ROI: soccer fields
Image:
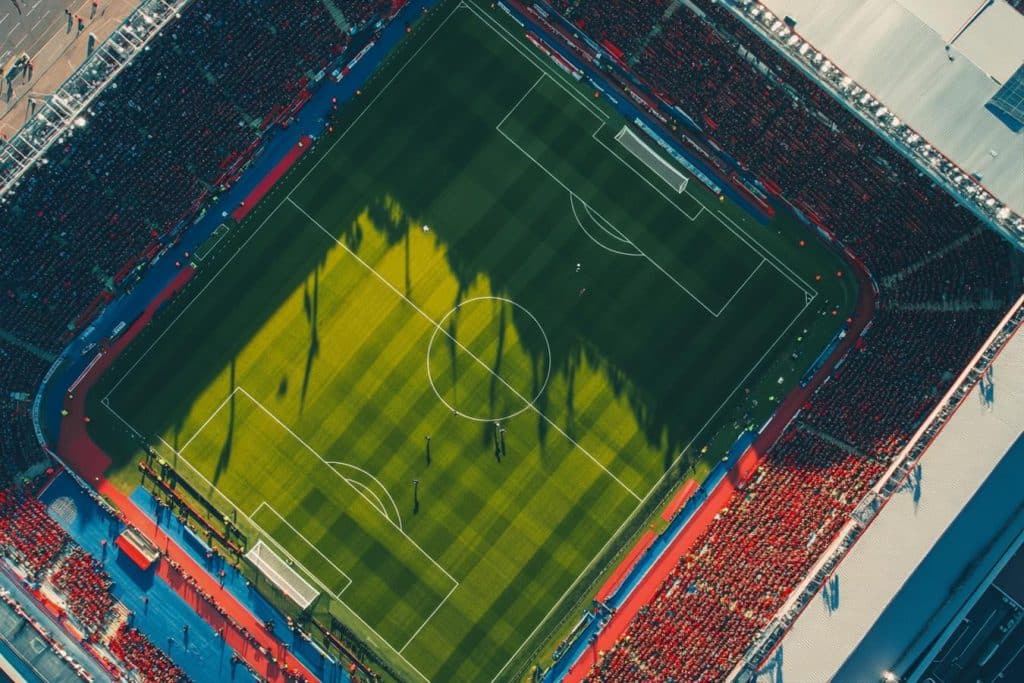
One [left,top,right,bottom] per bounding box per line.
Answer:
[101,0,822,683]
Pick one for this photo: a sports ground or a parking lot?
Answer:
sports ground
